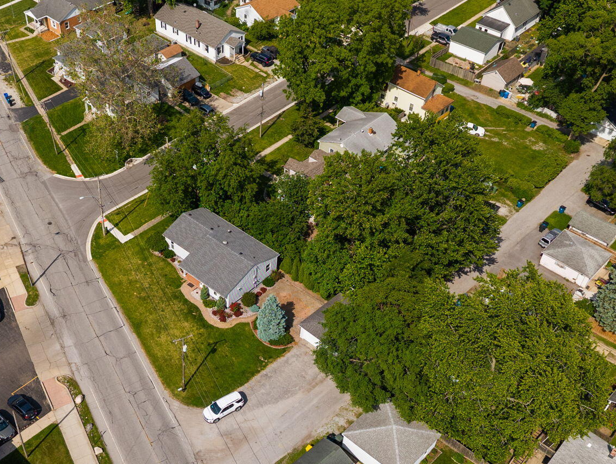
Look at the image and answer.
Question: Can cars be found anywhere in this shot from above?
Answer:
Yes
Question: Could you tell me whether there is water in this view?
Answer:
No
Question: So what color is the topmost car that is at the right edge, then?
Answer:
black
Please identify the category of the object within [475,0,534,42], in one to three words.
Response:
building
